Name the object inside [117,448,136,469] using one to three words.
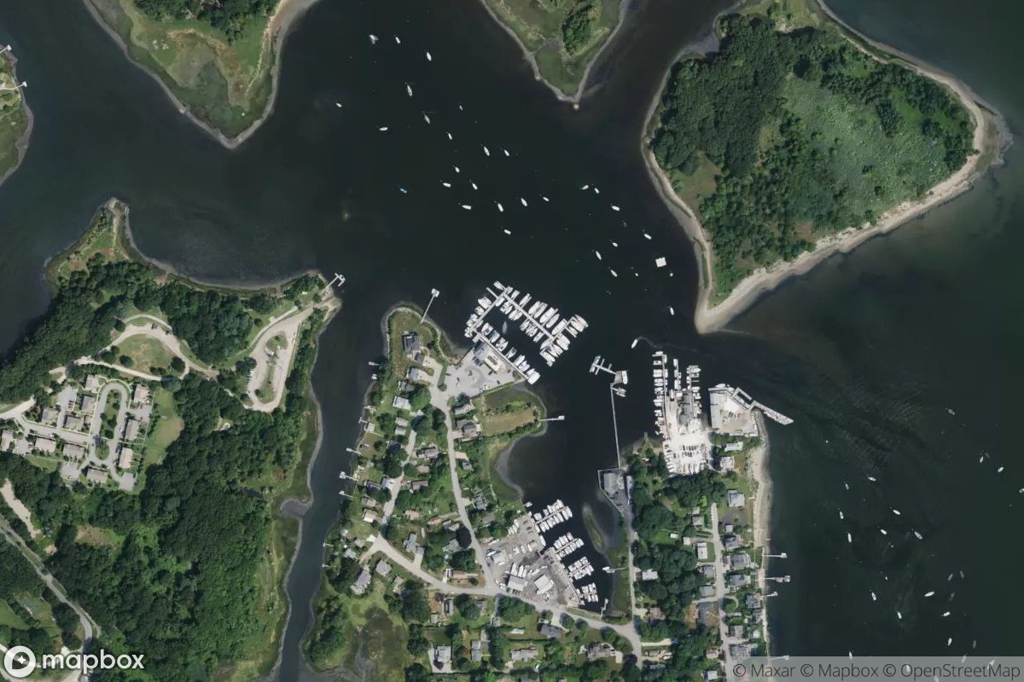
house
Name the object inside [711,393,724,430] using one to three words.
shed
